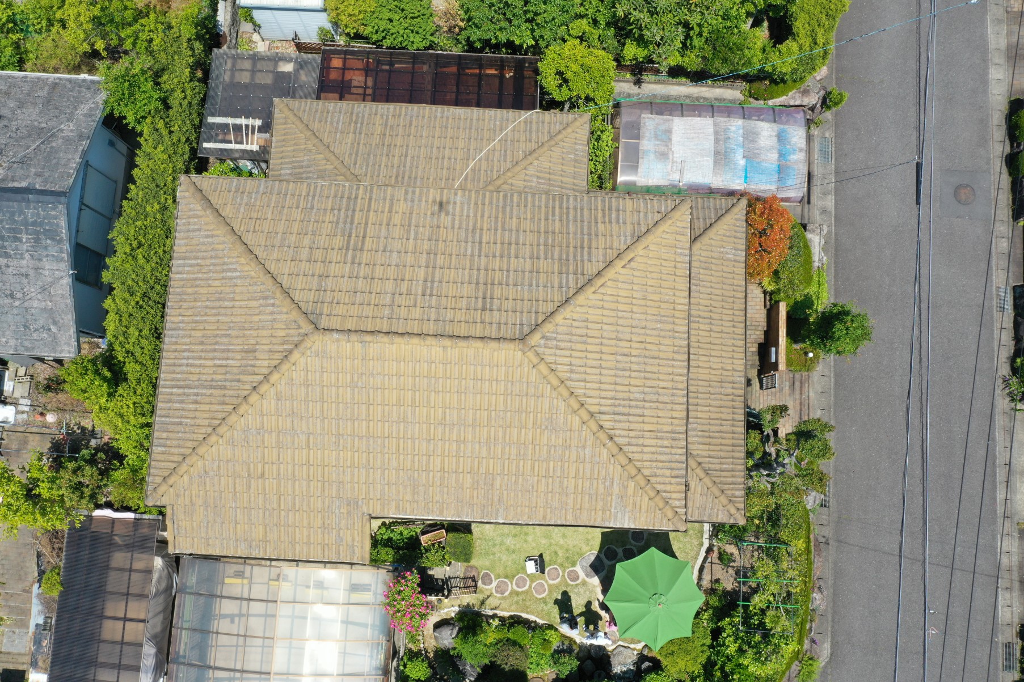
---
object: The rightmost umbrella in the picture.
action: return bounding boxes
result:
[604,547,705,650]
